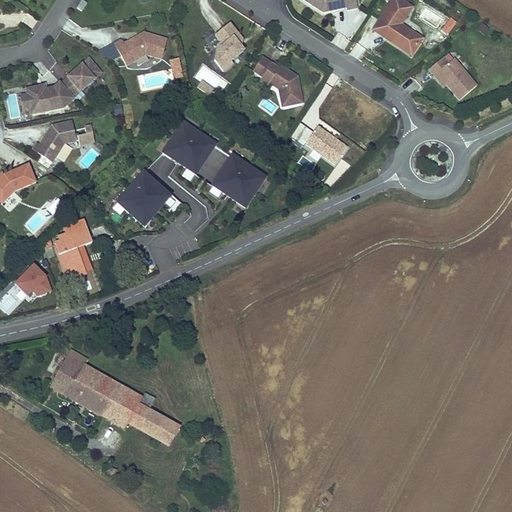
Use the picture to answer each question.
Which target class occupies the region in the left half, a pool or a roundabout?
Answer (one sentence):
Looking in the left half, you will find a pool.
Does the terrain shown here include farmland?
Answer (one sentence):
Yes, there is farmland in the image.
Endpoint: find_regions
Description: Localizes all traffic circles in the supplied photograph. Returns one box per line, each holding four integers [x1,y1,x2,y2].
[395,125,469,198]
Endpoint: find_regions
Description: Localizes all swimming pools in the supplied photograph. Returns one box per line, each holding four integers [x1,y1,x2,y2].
[416,1,449,48]
[138,69,173,93]
[297,156,315,170]
[24,197,60,232]
[258,98,279,116]
[76,144,100,170]
[4,88,22,122]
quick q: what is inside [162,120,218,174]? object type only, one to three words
building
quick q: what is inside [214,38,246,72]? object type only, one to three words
house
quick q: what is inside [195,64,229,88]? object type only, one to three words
shed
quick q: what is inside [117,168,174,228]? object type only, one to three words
building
